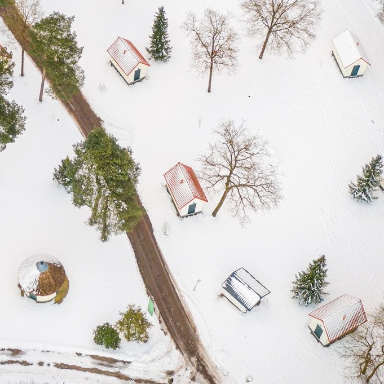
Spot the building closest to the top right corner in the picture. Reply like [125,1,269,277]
[330,29,371,77]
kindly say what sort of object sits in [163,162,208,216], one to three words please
building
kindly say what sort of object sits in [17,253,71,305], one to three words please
shed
